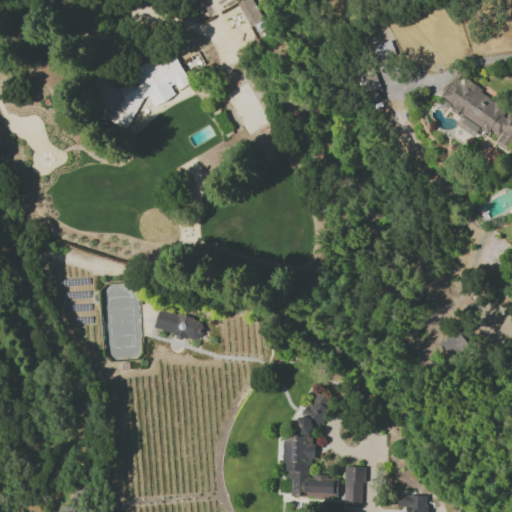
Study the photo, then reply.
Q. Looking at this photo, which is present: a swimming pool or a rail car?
swimming pool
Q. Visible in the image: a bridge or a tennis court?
tennis court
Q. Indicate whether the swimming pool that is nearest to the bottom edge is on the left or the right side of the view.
right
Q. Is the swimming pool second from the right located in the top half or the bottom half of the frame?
top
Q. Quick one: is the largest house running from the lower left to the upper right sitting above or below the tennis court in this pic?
above it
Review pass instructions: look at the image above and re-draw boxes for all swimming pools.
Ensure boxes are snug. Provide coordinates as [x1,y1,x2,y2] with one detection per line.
[490,190,512,217]
[434,109,457,130]
[190,126,216,147]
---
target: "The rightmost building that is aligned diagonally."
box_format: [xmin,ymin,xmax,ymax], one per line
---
[437,74,512,151]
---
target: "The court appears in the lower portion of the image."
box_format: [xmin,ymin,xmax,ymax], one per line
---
[106,284,143,360]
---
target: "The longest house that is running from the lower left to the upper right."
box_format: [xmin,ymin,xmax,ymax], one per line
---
[112,59,191,126]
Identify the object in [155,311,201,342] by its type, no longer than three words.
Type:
house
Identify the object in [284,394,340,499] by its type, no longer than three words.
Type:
house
